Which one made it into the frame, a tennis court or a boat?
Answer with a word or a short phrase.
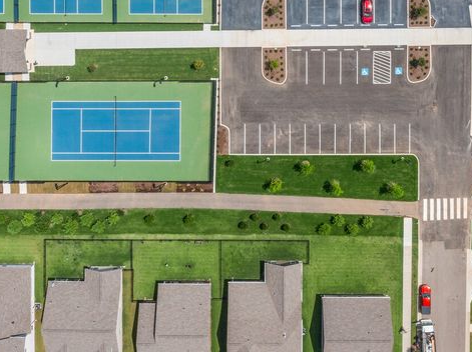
tennis court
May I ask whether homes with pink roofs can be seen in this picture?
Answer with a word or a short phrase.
No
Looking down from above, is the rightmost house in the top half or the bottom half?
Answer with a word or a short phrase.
bottom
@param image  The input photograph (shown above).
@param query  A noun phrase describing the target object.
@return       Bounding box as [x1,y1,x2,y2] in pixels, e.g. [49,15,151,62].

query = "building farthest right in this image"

[322,295,394,352]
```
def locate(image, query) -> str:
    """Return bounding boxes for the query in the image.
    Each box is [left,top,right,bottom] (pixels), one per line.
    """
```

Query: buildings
[43,264,123,352]
[227,260,303,352]
[135,281,211,352]
[0,263,33,352]
[322,295,394,352]
[0,29,29,73]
